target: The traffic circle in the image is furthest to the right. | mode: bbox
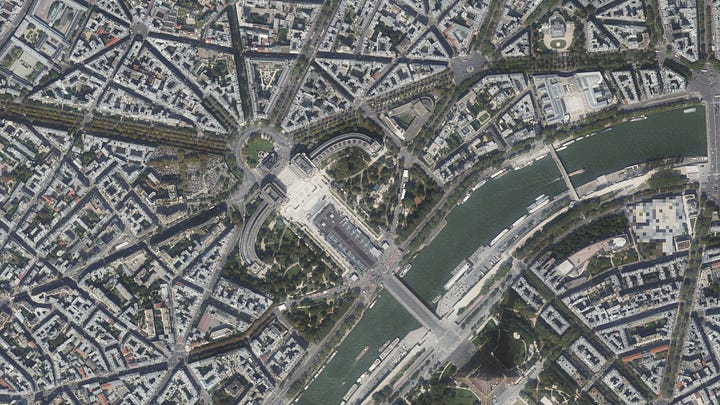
[236,129,280,172]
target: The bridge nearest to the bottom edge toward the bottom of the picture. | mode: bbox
[380,270,445,334]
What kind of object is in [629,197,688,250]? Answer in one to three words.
building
